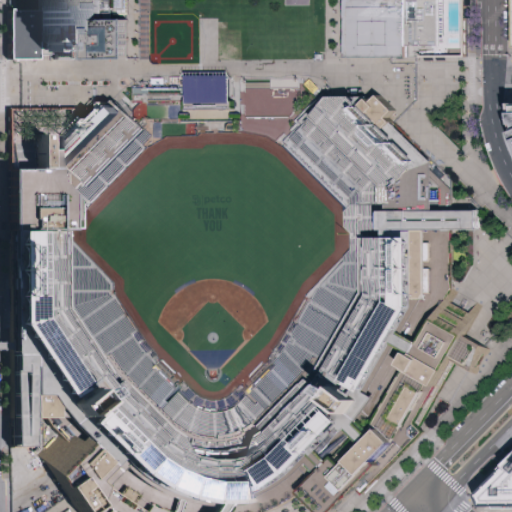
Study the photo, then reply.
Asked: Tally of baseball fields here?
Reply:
two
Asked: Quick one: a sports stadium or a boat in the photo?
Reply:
sports stadium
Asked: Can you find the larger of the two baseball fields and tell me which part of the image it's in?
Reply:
center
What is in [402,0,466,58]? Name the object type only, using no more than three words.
building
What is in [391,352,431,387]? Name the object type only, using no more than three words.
house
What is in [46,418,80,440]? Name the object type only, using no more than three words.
shed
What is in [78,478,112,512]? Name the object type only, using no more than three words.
building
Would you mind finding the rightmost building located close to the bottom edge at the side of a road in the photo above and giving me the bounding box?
[470,452,512,506]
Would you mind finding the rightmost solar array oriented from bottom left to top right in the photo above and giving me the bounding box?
[338,304,393,378]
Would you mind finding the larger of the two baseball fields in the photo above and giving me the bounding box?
[72,130,350,400]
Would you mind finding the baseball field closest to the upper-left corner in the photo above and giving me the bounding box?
[151,12,200,64]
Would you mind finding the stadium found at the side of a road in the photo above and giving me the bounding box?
[30,96,431,503]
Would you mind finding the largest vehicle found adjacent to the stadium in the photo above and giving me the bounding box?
[304,80,321,96]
